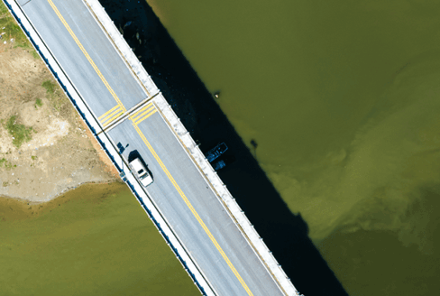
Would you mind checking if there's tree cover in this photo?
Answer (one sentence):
No, the scene doesn't show any tree cover.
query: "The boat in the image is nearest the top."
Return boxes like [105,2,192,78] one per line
[206,144,228,163]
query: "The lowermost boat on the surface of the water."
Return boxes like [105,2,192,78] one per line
[212,159,226,172]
